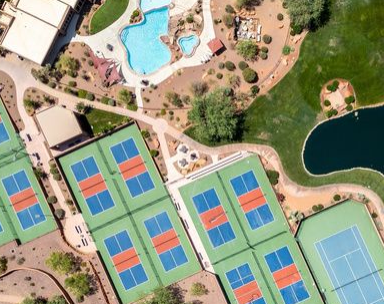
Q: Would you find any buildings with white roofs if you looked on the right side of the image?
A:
No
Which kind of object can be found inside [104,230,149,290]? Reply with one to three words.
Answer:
sports court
